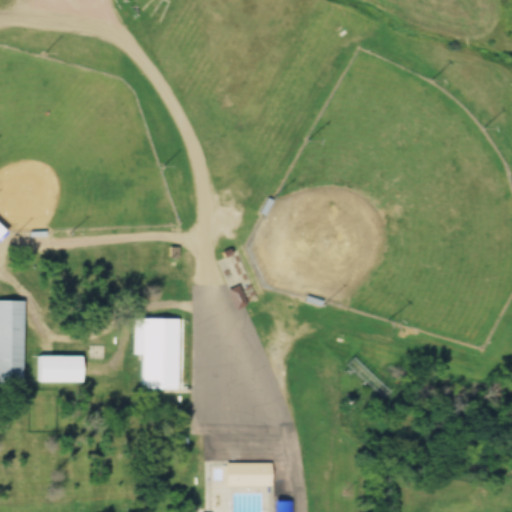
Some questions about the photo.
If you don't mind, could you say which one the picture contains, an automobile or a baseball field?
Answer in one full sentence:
This aerial view contains a baseball field.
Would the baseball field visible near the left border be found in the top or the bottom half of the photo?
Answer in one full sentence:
The baseball field visible near the left border is in the top half of the image.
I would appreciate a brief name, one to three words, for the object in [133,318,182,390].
building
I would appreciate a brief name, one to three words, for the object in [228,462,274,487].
building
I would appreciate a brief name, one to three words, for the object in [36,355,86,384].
shed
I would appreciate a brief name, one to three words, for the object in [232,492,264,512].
swimming pool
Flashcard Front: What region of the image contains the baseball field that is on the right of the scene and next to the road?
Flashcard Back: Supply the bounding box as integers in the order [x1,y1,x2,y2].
[246,48,512,349]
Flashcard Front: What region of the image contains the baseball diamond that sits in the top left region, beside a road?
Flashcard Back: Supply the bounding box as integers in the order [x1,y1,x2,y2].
[0,44,181,231]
